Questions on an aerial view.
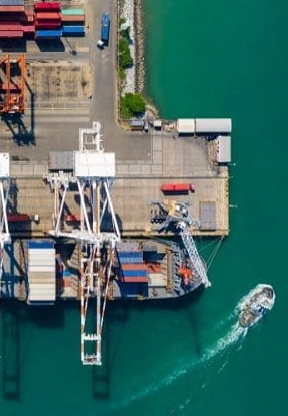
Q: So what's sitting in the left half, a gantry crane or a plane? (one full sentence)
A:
Looking in the left half, you will find a gantry crane.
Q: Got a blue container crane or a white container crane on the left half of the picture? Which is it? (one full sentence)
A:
What appears on the left half of the picture is a white container crane.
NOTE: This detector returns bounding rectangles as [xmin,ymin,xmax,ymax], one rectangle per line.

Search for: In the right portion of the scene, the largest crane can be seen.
[151,202,209,288]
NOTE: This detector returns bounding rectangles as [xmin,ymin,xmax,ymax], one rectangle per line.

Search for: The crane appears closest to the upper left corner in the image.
[0,56,26,117]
